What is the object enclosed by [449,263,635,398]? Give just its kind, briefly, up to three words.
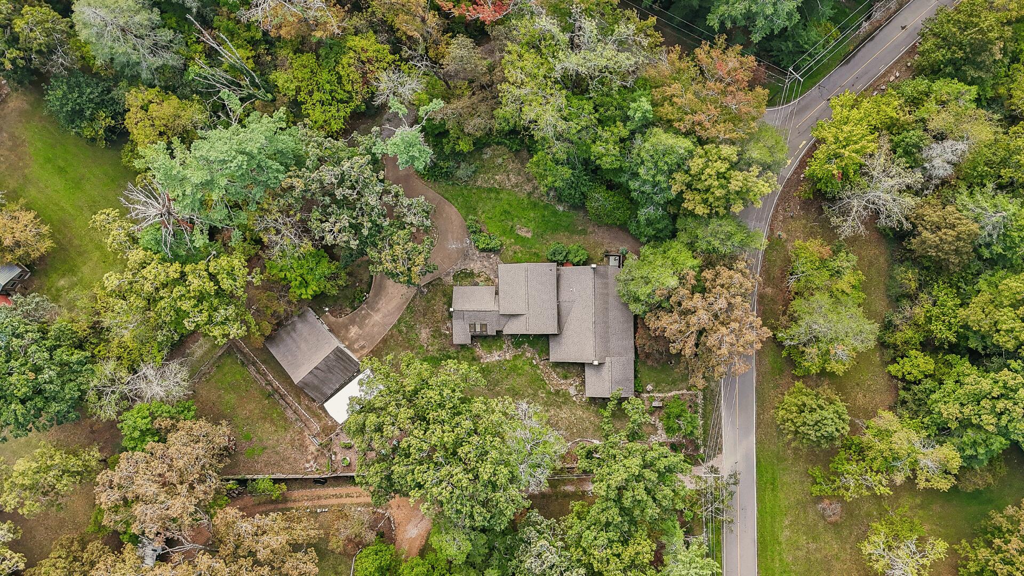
house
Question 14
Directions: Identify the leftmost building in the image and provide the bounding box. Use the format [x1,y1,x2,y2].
[0,259,36,290]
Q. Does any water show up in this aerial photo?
No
